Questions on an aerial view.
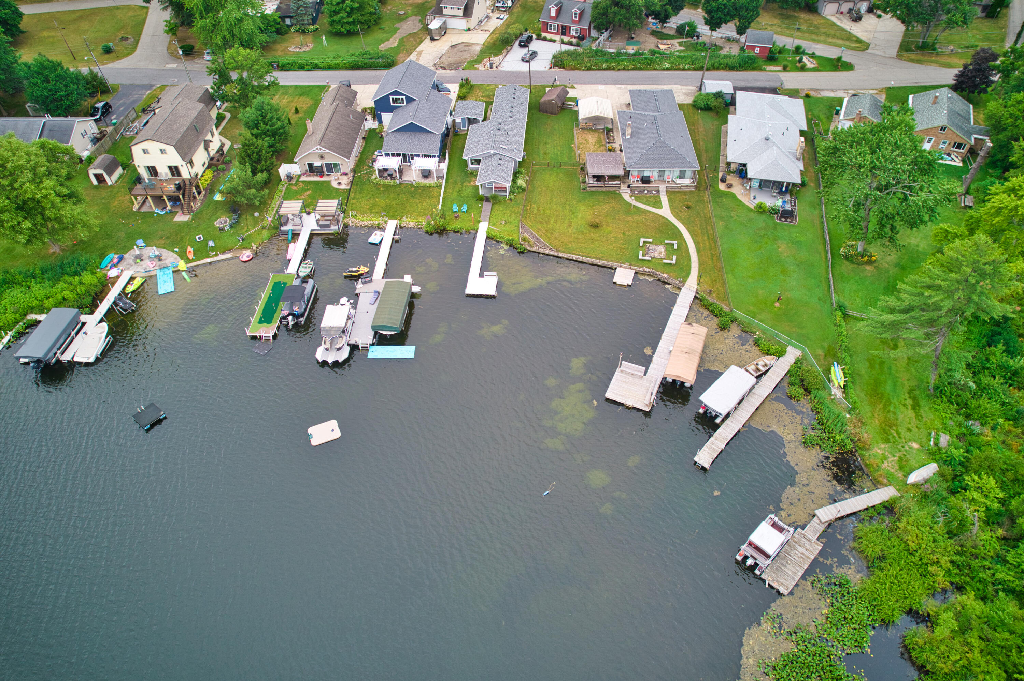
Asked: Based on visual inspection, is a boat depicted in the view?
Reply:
Yes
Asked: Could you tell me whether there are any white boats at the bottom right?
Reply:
Yes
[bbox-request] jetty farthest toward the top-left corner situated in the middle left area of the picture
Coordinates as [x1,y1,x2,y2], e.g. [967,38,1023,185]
[59,273,131,365]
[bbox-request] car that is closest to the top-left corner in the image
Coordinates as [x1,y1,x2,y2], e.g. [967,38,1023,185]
[89,100,111,119]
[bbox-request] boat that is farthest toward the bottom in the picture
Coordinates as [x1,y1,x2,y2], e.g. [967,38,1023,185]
[741,512,794,573]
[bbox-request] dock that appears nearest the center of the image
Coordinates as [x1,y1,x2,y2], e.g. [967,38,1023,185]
[465,232,497,297]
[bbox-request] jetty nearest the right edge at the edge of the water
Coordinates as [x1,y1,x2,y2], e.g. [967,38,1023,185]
[814,486,900,523]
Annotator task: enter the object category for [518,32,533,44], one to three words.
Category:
vehicle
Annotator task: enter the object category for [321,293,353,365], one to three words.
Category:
boat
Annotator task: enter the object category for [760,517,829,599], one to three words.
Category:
pier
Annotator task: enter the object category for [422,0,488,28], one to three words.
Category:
house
